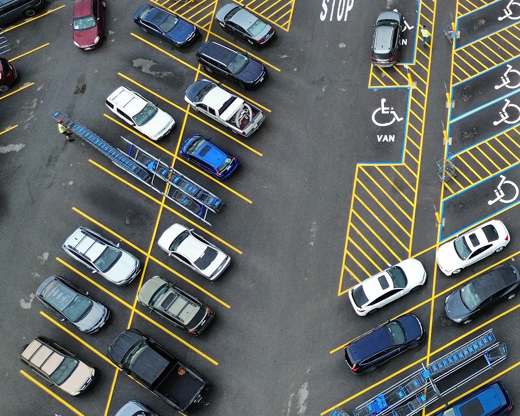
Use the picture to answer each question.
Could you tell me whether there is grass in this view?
No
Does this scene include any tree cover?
No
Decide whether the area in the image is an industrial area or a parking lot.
parking lot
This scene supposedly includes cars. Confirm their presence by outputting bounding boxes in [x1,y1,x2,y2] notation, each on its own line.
[434,218,512,278]
[342,259,429,321]
[138,276,219,340]
[105,86,178,141]
[67,0,108,53]
[443,262,520,327]
[112,397,162,416]
[194,39,269,92]
[0,0,41,27]
[18,333,104,400]
[130,3,199,49]
[62,225,143,288]
[212,3,279,48]
[31,271,113,335]
[179,133,242,182]
[429,379,514,416]
[157,223,233,283]
[371,10,406,70]
[342,312,431,378]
